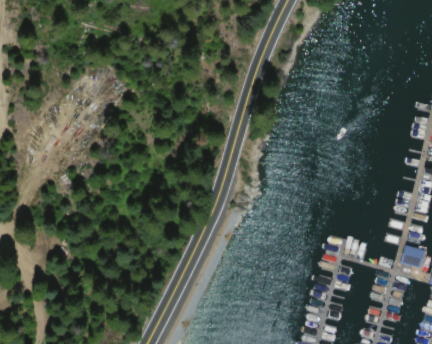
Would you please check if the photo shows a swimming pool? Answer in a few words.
No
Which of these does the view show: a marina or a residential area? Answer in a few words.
marina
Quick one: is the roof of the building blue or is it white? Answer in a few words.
blue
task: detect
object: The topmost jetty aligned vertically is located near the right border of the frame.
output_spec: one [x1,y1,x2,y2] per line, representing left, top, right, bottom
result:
[385,108,432,265]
